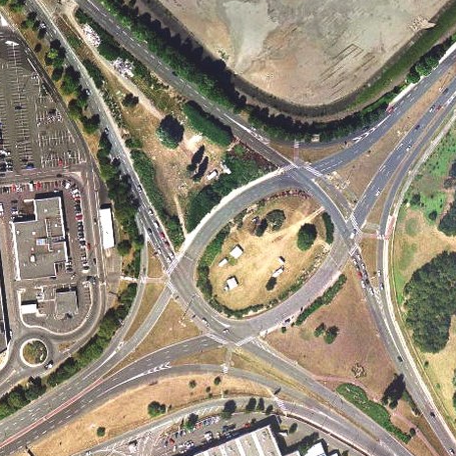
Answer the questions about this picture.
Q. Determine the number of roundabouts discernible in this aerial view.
two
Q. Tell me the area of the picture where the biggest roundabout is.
center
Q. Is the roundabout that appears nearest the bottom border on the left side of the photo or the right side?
left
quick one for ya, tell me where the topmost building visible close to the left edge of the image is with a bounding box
[11,195,69,281]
